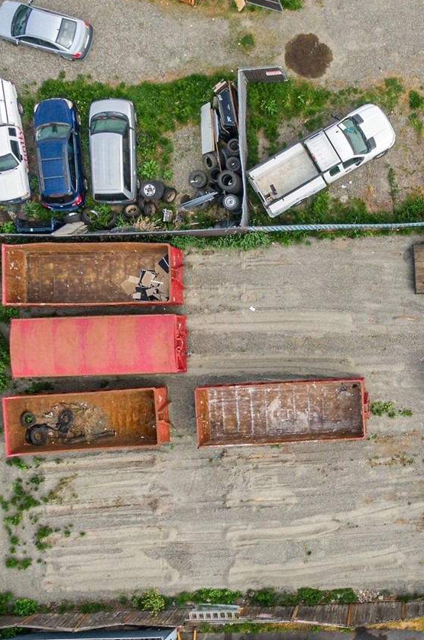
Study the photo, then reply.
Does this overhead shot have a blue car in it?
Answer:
Yes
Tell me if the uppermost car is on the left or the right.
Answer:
left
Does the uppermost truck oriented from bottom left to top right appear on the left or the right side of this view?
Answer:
right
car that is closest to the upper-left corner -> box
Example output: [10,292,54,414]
[0,0,96,62]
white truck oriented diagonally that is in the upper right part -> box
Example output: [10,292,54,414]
[248,105,394,219]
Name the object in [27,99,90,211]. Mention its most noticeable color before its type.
blue car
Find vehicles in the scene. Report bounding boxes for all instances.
[82,100,142,205]
[248,105,394,219]
[27,99,90,211]
[0,0,96,62]
[0,79,35,203]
